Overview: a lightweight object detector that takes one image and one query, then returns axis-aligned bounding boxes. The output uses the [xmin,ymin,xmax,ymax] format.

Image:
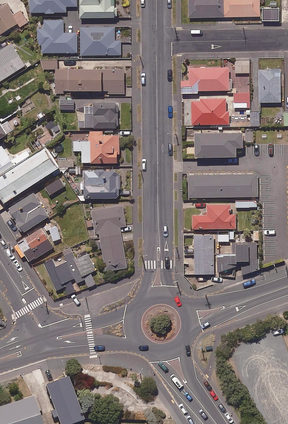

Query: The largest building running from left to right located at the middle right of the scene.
[188,173,260,198]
